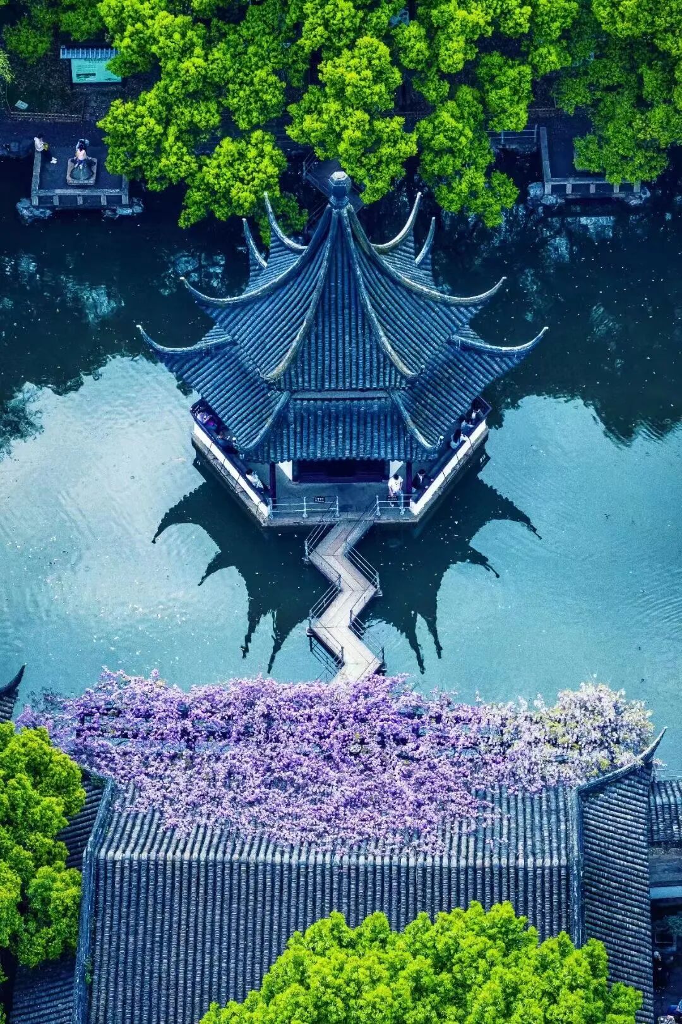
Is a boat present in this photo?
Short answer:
No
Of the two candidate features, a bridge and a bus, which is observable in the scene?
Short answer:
bridge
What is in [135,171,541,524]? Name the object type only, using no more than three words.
building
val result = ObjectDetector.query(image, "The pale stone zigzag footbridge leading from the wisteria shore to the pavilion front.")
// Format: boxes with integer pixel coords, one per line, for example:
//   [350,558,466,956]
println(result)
[304,515,386,746]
